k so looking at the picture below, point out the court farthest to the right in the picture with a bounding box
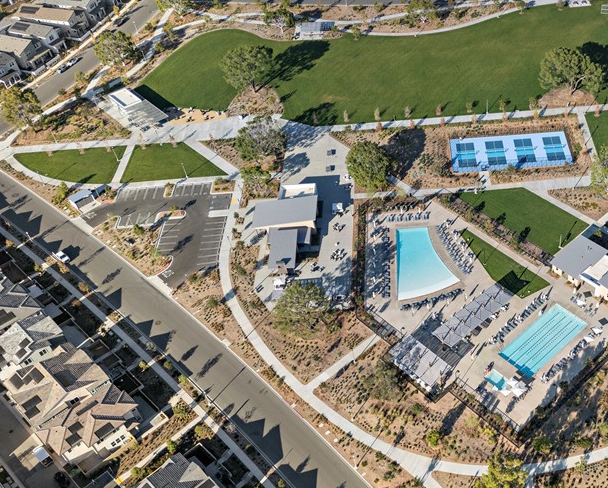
[542,136,566,160]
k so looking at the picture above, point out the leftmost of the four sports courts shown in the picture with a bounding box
[456,142,478,167]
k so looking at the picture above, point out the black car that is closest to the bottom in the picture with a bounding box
[51,468,70,487]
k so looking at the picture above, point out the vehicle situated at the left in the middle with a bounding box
[53,248,69,261]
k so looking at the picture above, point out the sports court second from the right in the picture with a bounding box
[513,138,536,162]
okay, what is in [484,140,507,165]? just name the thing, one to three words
sports court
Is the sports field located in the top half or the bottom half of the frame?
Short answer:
top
